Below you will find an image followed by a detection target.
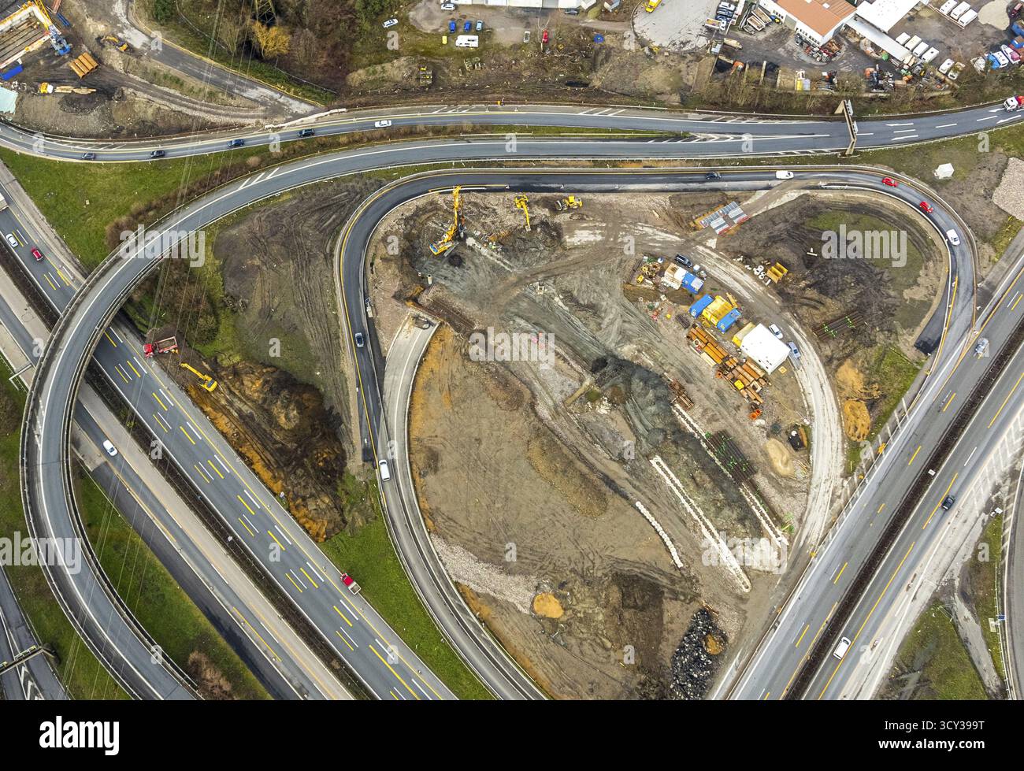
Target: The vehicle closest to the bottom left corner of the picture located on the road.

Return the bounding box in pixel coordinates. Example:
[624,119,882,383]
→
[102,439,117,456]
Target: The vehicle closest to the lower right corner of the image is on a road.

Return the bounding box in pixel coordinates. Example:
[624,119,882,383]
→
[833,637,850,659]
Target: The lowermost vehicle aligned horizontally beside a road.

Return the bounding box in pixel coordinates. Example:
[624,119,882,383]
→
[143,338,177,356]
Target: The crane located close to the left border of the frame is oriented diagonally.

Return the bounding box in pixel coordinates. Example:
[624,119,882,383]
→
[29,0,73,56]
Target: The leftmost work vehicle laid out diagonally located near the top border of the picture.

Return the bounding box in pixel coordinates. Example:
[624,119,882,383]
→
[99,27,130,49]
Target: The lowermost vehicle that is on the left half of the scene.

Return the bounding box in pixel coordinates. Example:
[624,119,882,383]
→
[338,570,362,595]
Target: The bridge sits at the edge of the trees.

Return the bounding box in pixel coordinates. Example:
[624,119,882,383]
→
[20,134,845,771]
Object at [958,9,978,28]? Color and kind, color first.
white camper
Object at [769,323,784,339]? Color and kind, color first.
white car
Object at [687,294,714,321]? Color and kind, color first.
blue shipping container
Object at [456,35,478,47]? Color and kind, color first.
white vehicle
